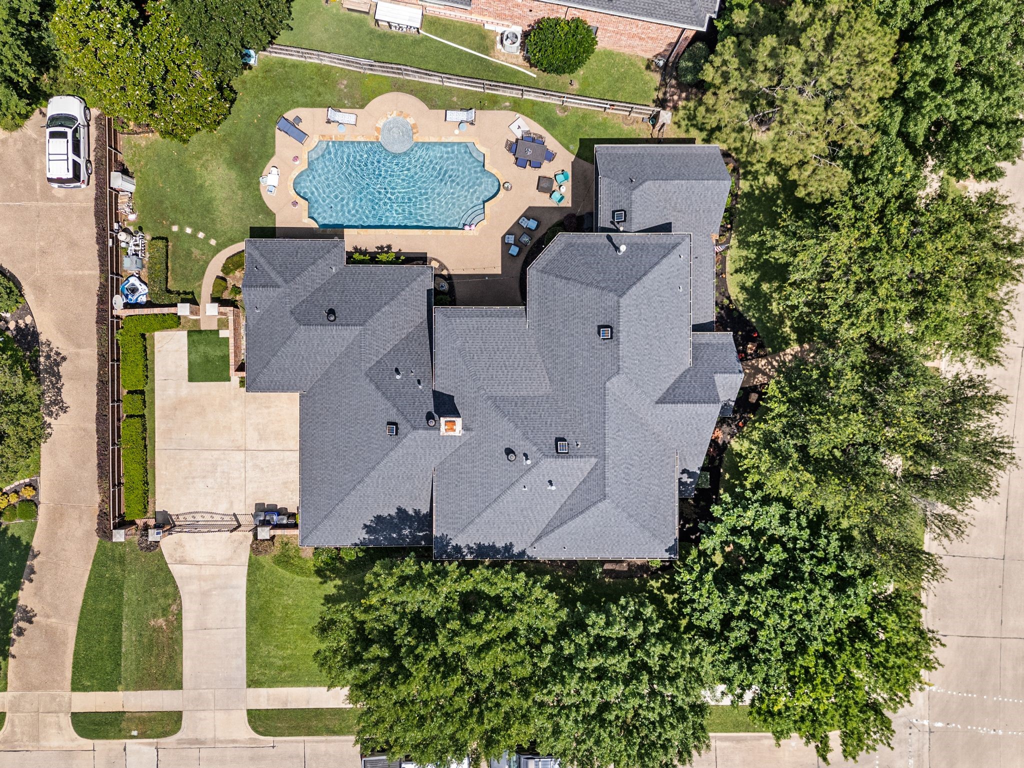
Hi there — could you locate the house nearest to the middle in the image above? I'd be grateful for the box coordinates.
[241,143,744,561]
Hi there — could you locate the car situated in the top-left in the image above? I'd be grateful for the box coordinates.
[44,95,95,192]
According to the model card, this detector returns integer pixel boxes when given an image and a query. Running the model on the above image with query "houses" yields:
[241,143,744,561]
[319,0,722,60]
